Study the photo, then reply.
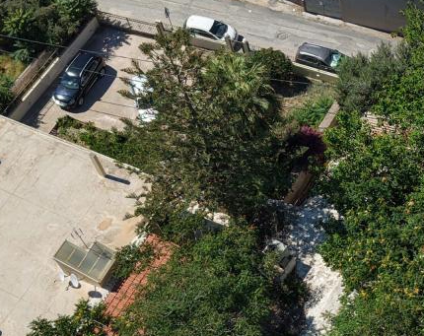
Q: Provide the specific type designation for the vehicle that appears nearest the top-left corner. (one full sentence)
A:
The vehicle that appears nearest the top-left corner appears to be an automobile.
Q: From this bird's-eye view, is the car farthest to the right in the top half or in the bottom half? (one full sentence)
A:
The top half of the photo is where the car farthest to the right is.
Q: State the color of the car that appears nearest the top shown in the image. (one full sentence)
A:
The car that appears nearest the top is white.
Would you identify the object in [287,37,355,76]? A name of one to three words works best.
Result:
car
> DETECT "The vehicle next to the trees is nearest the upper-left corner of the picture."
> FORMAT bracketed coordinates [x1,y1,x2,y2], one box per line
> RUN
[52,48,103,111]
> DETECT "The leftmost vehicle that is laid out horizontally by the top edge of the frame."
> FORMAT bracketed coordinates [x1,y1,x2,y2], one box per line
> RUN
[178,9,245,48]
